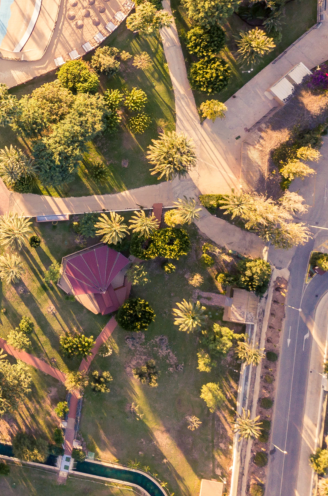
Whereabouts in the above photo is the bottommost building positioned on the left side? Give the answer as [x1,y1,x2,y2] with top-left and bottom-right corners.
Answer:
[56,242,130,314]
